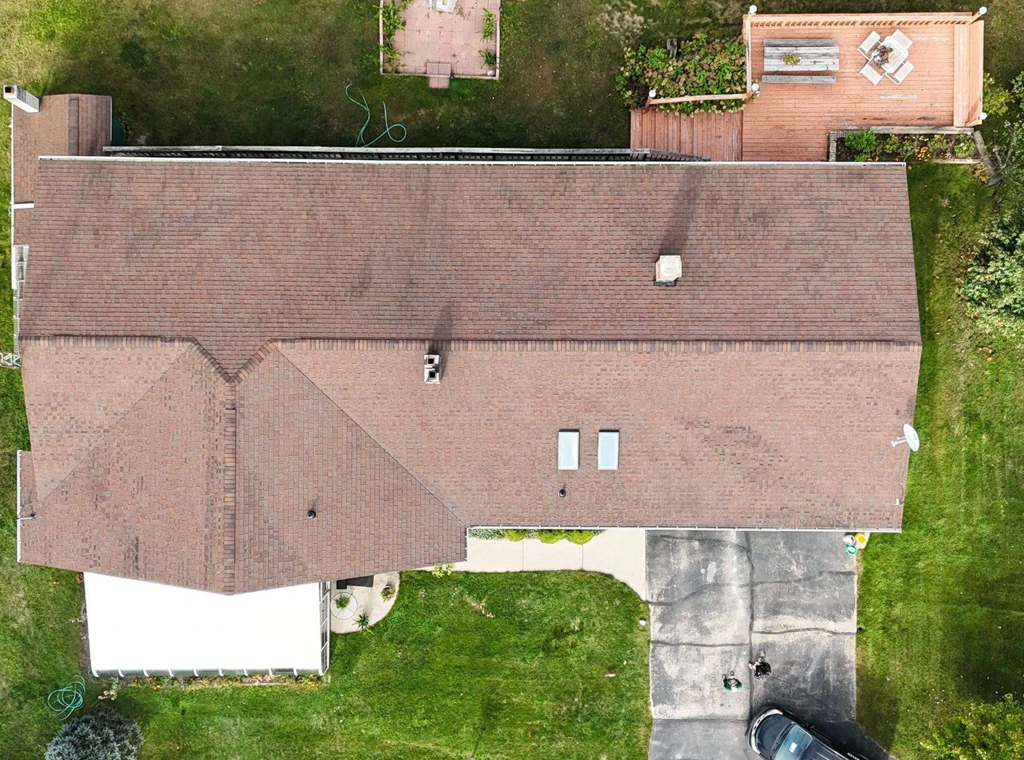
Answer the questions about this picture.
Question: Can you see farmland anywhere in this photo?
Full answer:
No, there is no farmland in the image.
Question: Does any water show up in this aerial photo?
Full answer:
No, the picture contains no water.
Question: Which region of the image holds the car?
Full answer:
Look in the bottom right portion of the view to spot the car.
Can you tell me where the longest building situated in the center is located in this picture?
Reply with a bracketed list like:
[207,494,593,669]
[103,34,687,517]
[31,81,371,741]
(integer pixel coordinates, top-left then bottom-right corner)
[16,155,923,596]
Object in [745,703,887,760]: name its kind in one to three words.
car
